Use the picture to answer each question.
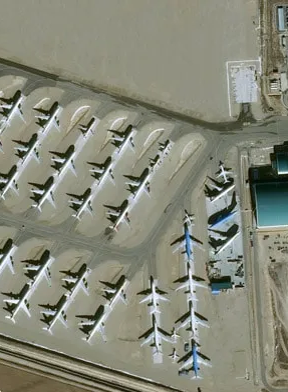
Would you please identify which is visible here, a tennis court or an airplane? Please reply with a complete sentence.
Of the two, only an airplane appears.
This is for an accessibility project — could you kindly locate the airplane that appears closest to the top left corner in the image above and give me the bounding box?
[0,97,25,125]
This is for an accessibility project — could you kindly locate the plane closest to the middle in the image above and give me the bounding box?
[127,175,152,203]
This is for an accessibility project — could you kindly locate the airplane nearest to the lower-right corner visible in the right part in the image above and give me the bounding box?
[179,343,211,379]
